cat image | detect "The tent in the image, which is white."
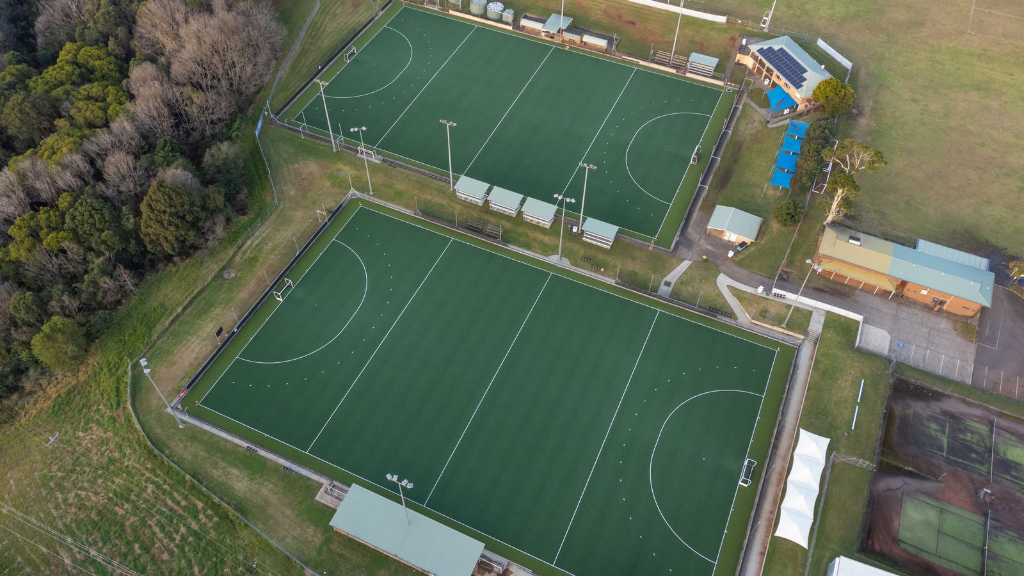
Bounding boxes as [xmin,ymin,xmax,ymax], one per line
[772,429,830,552]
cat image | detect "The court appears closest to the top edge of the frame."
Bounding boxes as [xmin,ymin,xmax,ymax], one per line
[902,404,1024,500]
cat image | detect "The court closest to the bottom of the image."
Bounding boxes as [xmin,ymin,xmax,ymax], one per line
[894,486,1024,576]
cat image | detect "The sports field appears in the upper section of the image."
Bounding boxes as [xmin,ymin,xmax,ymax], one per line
[278,0,737,248]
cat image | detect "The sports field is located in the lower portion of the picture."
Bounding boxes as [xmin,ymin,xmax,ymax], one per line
[178,195,798,576]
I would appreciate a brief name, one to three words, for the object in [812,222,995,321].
building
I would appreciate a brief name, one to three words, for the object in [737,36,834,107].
building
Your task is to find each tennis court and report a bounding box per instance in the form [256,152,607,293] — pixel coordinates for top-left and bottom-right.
[894,486,1024,576]
[902,404,1024,500]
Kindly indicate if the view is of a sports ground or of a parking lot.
sports ground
